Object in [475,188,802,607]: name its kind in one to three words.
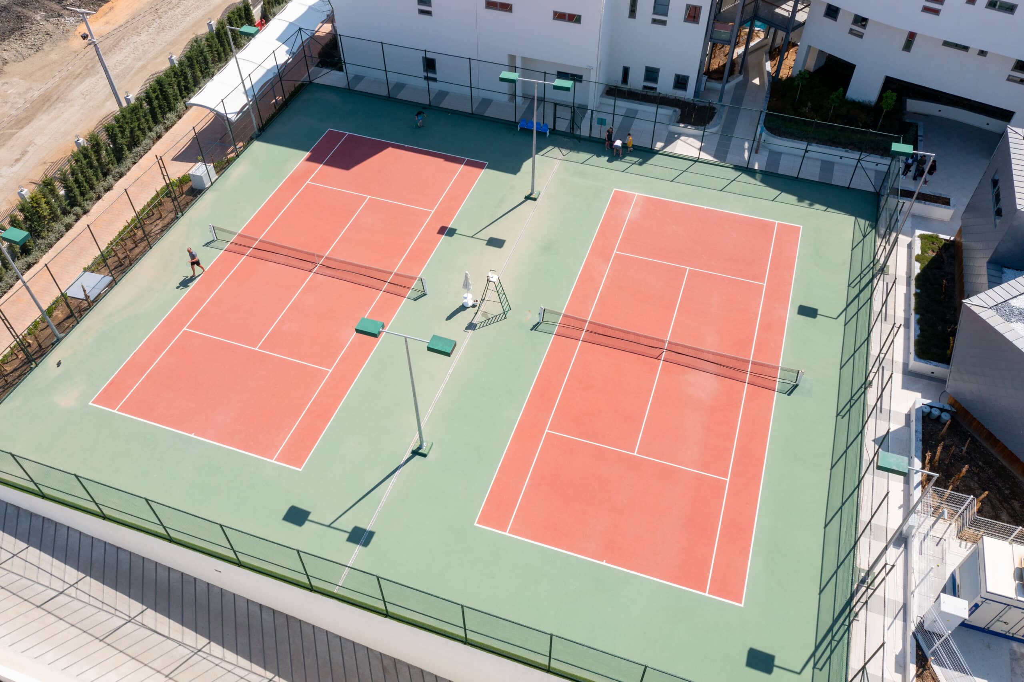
tennis court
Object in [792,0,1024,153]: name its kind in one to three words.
building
